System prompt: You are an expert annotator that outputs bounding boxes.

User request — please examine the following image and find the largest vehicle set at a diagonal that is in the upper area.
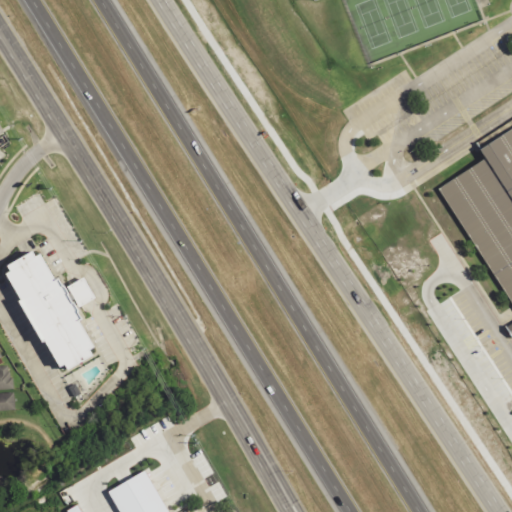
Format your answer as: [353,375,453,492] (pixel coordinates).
[292,192,306,210]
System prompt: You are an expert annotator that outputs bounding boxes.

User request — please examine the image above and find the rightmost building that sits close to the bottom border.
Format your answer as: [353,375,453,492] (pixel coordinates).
[109,470,171,512]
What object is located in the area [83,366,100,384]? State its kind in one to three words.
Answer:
swimming pool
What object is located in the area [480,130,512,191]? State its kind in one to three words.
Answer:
building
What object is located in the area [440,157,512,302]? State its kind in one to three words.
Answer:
building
